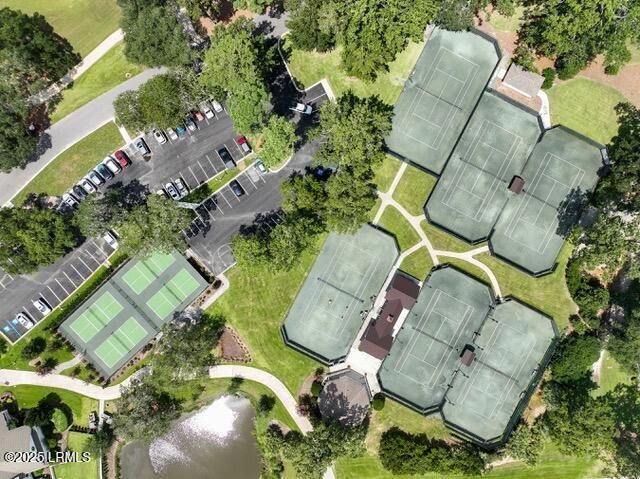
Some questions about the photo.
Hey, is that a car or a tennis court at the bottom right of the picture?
tennis court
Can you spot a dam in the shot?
No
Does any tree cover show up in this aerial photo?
Yes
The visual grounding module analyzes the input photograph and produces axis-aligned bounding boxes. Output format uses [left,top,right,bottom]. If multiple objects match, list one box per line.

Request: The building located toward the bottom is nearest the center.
[358,268,421,360]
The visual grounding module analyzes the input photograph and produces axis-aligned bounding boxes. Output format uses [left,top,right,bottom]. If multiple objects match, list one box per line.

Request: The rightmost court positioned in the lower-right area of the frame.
[441,294,561,443]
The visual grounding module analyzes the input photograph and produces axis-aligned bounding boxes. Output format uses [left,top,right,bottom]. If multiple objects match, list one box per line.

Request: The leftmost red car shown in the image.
[114,150,129,168]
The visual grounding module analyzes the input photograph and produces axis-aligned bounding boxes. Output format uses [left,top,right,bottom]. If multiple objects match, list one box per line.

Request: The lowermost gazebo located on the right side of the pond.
[319,370,374,428]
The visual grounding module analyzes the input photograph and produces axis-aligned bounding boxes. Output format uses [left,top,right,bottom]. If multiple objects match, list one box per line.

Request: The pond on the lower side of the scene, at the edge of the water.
[119,394,262,479]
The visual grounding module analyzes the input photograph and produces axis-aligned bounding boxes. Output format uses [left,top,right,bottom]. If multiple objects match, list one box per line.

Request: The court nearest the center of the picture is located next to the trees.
[281,213,401,361]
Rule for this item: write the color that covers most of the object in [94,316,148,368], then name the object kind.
green sports court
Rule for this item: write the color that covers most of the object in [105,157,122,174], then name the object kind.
white car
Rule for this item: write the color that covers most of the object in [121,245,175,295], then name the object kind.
green sports court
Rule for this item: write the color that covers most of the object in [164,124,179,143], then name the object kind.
white car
